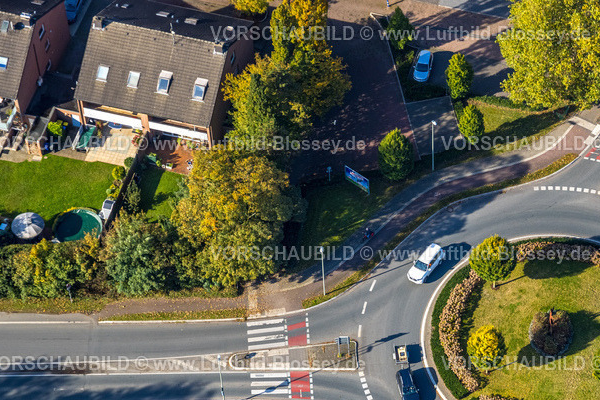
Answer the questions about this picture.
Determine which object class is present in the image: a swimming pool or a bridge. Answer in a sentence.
Visible in the photo is a swimming pool.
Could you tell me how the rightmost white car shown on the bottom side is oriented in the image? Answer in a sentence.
Seen from above, the rightmost white car shown on the bottom side lies on a diagonal.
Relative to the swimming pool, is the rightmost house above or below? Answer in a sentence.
As seen from overhead, the rightmost house falls above the swimming pool in the picture.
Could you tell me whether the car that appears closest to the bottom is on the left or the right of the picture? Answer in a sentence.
It is on the right.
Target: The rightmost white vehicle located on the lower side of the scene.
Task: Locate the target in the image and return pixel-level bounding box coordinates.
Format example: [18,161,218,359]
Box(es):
[409,243,443,283]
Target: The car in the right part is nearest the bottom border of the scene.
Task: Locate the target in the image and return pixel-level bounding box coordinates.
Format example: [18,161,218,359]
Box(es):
[396,365,420,400]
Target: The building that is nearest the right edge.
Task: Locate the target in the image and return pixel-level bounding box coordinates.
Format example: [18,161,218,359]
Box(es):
[73,0,251,144]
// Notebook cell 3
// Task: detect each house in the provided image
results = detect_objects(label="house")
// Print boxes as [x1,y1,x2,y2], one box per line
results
[0,0,67,123]
[73,0,251,144]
